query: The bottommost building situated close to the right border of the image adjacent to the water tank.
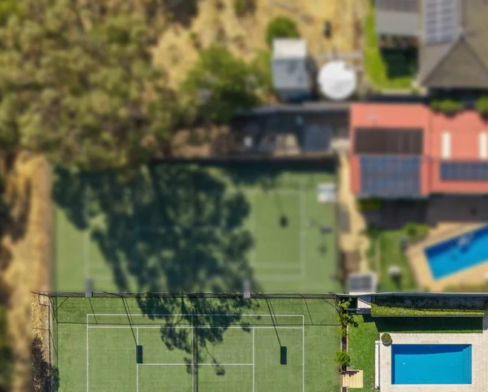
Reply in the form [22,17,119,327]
[351,103,488,200]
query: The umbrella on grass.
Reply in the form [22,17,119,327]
[387,264,400,278]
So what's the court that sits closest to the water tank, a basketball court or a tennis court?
tennis court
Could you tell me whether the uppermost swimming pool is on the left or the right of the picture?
right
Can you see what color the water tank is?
white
